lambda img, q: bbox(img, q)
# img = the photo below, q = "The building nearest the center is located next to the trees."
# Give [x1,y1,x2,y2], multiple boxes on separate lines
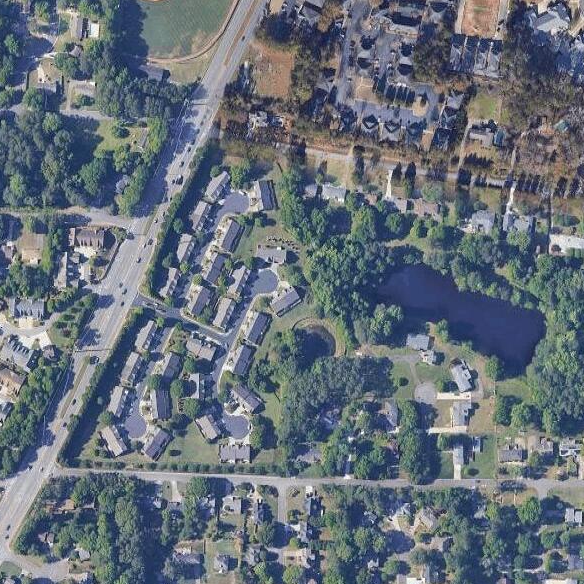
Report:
[273,290,303,316]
